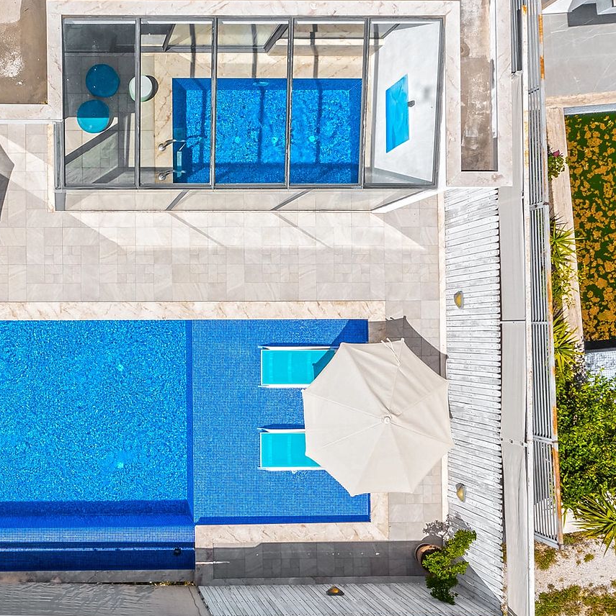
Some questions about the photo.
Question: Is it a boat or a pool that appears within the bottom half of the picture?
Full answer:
Visible within the bottom half of the picture is a pool.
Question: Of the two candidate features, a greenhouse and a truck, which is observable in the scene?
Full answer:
Of the two, only a greenhouse appears.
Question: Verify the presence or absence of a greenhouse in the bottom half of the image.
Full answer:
No, there's no greenhouse to be seen in the bottom half of the image.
